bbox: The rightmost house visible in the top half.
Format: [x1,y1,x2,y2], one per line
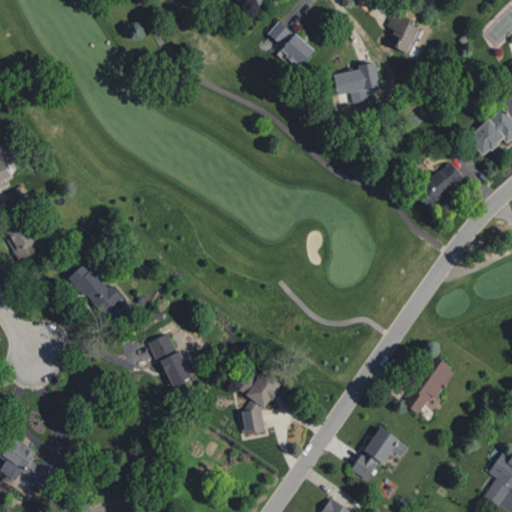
[474,110,512,153]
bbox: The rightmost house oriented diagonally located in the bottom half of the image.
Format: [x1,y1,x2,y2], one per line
[409,361,454,414]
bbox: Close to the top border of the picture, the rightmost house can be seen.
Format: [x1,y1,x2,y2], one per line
[386,18,424,56]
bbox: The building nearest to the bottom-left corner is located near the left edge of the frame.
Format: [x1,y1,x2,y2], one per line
[0,442,36,481]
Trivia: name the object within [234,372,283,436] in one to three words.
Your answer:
house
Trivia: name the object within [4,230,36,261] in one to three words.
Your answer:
house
